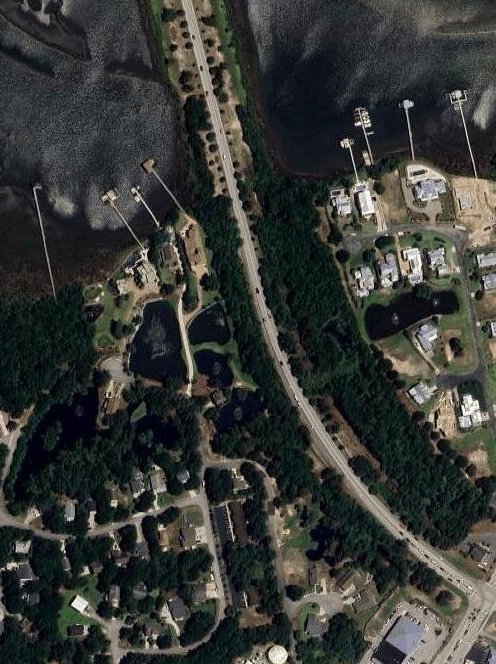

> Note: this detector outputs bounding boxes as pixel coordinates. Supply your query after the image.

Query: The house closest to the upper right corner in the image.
[413,180,446,201]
